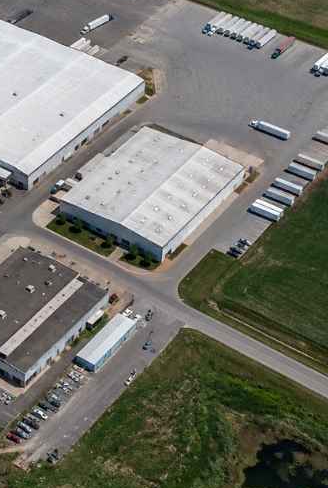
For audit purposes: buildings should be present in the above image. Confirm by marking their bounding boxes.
[0,19,146,191]
[52,125,247,259]
[0,244,109,386]
[73,310,138,374]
